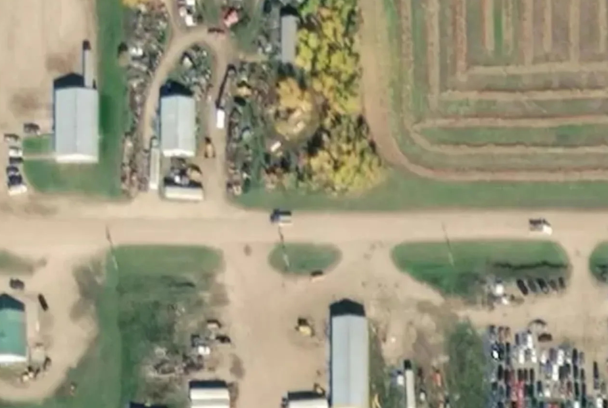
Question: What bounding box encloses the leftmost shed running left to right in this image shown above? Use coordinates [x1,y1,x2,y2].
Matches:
[164,186,203,199]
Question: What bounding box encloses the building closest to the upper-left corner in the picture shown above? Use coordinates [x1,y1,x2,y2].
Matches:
[55,86,100,163]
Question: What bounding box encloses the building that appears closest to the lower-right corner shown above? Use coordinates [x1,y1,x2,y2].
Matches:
[332,314,369,408]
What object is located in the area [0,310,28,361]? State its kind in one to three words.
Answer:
building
